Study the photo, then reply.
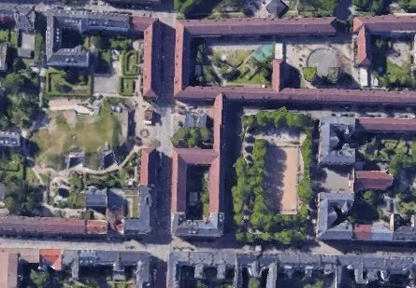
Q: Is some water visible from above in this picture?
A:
No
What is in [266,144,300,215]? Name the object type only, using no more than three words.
sports field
